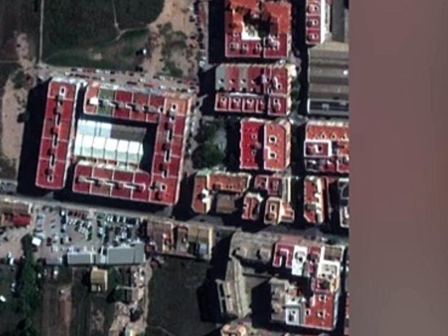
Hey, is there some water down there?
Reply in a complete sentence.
No, there is no water in the image.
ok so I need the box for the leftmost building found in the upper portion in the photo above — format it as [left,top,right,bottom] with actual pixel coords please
[36,74,81,189]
